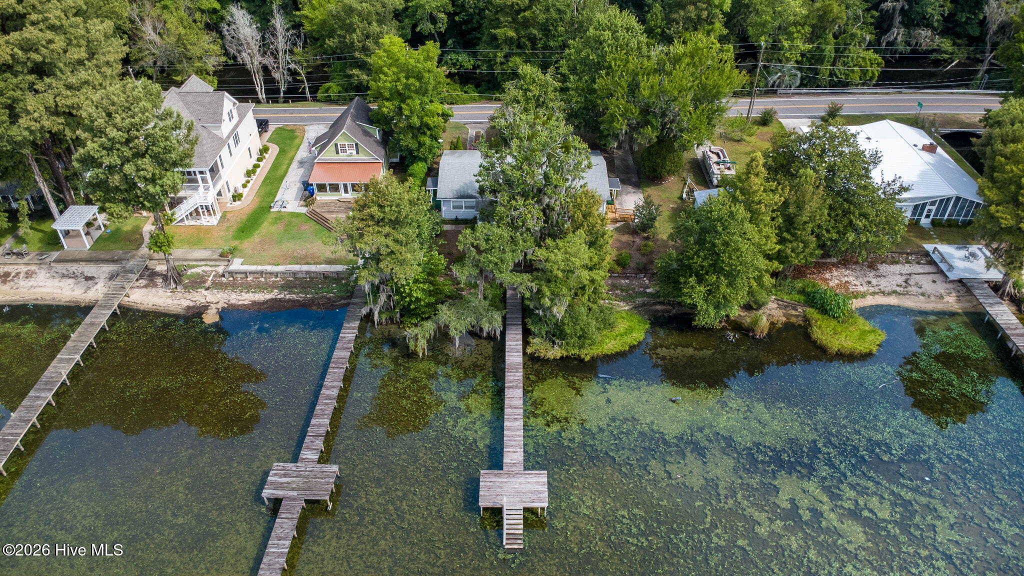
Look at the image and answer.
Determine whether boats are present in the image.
Yes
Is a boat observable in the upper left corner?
No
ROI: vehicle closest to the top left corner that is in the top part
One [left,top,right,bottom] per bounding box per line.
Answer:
[256,112,275,135]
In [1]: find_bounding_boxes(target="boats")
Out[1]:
[704,145,741,183]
